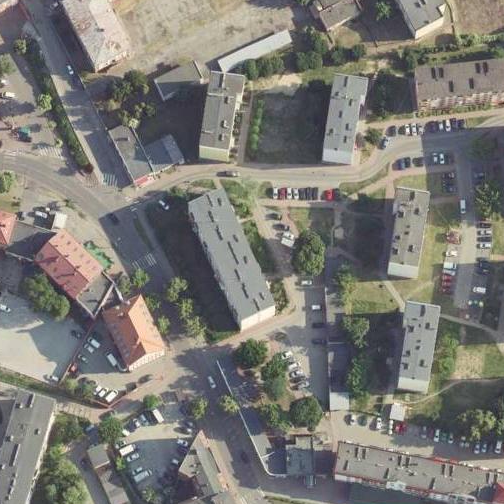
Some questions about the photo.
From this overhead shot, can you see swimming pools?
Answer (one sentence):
No, there isn't any swimming pool down there.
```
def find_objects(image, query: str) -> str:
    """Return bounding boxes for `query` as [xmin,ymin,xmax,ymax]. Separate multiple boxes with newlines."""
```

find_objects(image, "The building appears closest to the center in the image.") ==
[188,189,275,331]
